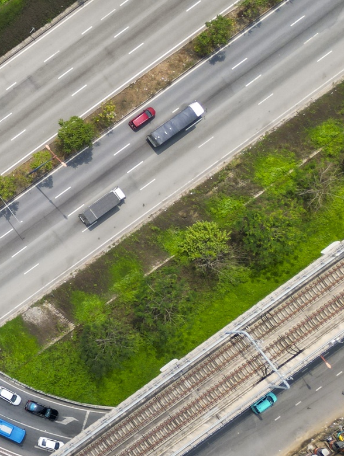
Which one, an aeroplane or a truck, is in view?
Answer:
truck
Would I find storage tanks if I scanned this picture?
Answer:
No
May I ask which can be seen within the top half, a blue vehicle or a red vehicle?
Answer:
red vehicle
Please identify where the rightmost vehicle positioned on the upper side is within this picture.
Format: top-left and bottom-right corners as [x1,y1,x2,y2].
[144,98,209,148]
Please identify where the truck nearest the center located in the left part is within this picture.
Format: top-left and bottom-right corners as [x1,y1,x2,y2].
[77,184,130,226]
